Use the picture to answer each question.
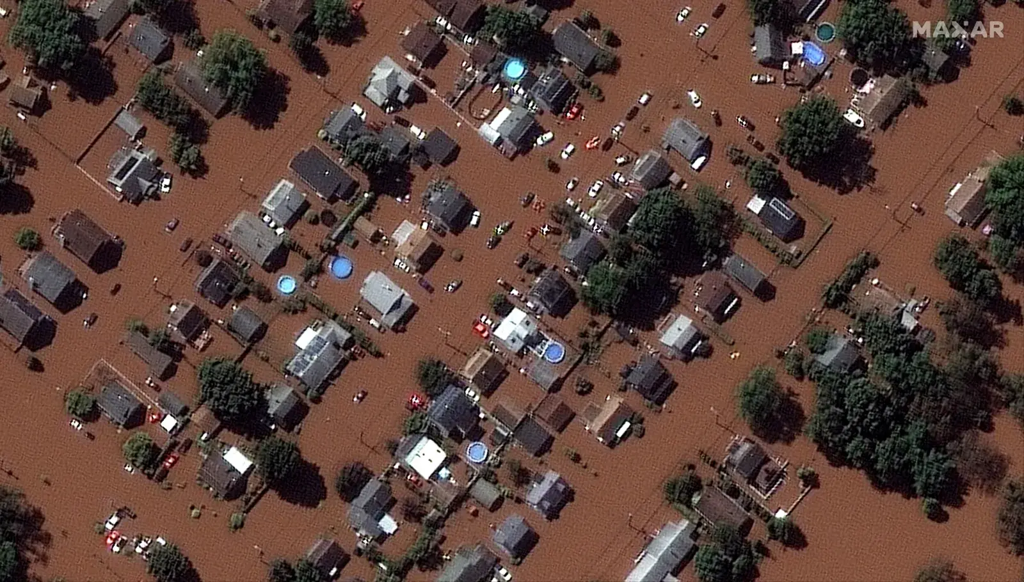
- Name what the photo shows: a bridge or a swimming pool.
swimming pool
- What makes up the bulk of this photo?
water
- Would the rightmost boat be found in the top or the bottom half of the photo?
top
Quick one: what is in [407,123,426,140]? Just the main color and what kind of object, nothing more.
white vehicle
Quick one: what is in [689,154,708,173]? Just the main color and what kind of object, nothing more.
white vehicle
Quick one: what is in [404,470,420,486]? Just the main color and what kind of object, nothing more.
red car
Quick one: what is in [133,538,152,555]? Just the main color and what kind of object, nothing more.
white car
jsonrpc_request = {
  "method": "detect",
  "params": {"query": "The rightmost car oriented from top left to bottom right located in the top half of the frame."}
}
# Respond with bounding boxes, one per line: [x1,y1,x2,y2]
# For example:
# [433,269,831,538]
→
[907,200,926,216]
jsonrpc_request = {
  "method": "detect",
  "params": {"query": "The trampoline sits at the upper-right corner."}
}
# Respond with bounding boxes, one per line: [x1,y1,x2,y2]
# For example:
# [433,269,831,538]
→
[851,70,868,86]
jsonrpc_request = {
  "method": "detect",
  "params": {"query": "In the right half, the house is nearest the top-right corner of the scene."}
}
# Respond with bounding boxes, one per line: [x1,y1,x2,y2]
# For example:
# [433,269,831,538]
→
[923,48,951,71]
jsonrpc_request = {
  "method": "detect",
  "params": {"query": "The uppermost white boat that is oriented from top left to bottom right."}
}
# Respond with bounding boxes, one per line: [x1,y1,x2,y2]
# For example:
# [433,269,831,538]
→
[840,106,865,126]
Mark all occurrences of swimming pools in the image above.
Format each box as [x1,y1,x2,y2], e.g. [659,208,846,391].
[503,58,526,79]
[802,43,826,64]
[544,341,564,362]
[815,22,837,41]
[466,442,489,462]
[330,257,354,278]
[277,275,298,294]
